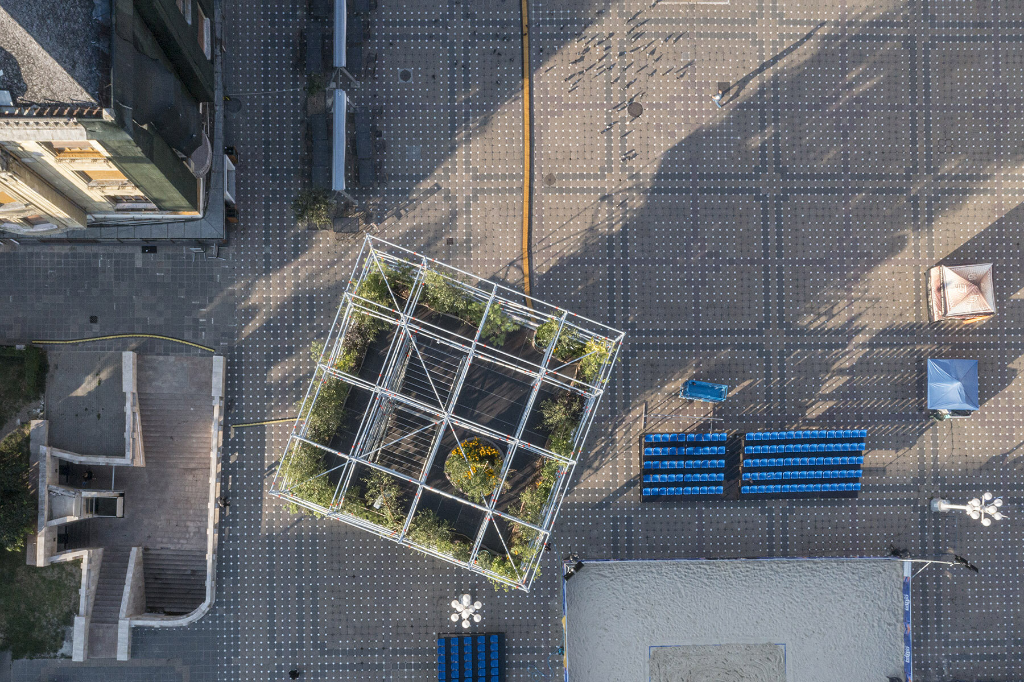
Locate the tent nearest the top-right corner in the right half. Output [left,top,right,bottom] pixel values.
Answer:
[917,263,996,326]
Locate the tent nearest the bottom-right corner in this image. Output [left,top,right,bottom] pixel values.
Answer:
[902,359,979,414]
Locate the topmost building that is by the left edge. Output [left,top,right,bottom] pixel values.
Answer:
[0,0,228,251]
